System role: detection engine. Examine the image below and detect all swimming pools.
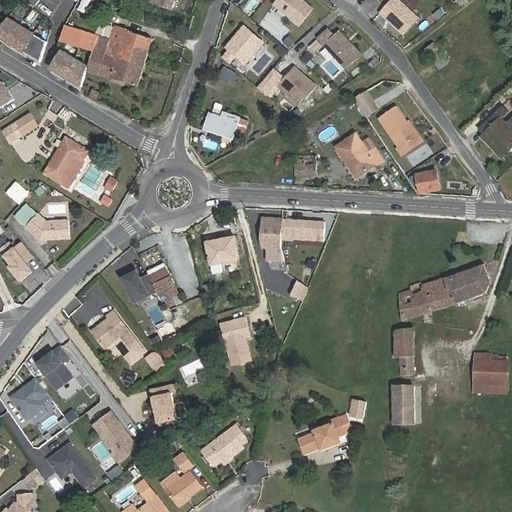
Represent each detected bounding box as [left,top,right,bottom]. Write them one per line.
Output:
[146,303,165,326]
[318,126,336,142]
[78,164,104,193]
[448,180,462,190]
[255,52,273,76]
[244,0,259,11]
[91,441,112,463]
[42,414,58,428]
[323,59,340,78]
[114,485,137,504]
[202,139,219,152]
[418,20,430,32]
[76,186,90,198]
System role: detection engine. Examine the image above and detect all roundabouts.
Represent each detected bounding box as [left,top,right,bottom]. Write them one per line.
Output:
[140,158,210,230]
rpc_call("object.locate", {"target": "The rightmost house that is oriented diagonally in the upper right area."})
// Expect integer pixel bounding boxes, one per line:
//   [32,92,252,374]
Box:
[478,97,512,134]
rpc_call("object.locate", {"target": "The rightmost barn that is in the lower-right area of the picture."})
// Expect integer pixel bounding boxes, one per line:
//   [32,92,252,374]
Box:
[472,352,509,394]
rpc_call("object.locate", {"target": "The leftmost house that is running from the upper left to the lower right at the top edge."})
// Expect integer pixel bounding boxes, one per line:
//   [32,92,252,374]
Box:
[0,17,48,64]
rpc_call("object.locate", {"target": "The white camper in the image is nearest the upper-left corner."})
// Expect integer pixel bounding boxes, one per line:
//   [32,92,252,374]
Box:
[36,2,52,16]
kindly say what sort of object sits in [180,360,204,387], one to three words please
shed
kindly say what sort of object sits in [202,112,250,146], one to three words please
house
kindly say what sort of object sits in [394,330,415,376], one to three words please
barn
